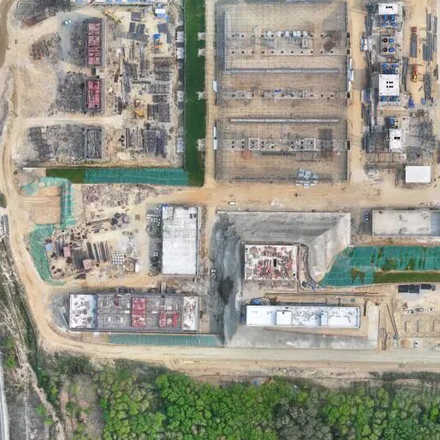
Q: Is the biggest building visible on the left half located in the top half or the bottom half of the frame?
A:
bottom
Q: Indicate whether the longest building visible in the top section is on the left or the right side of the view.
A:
right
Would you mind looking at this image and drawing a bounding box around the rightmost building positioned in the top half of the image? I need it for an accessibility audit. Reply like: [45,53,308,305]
[406,166,431,182]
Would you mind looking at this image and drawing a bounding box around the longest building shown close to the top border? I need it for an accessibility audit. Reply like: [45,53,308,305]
[370,1,404,114]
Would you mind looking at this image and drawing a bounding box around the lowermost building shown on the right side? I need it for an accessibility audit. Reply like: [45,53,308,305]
[247,305,360,326]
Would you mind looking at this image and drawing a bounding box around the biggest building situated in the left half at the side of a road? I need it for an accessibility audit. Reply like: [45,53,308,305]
[70,294,199,329]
